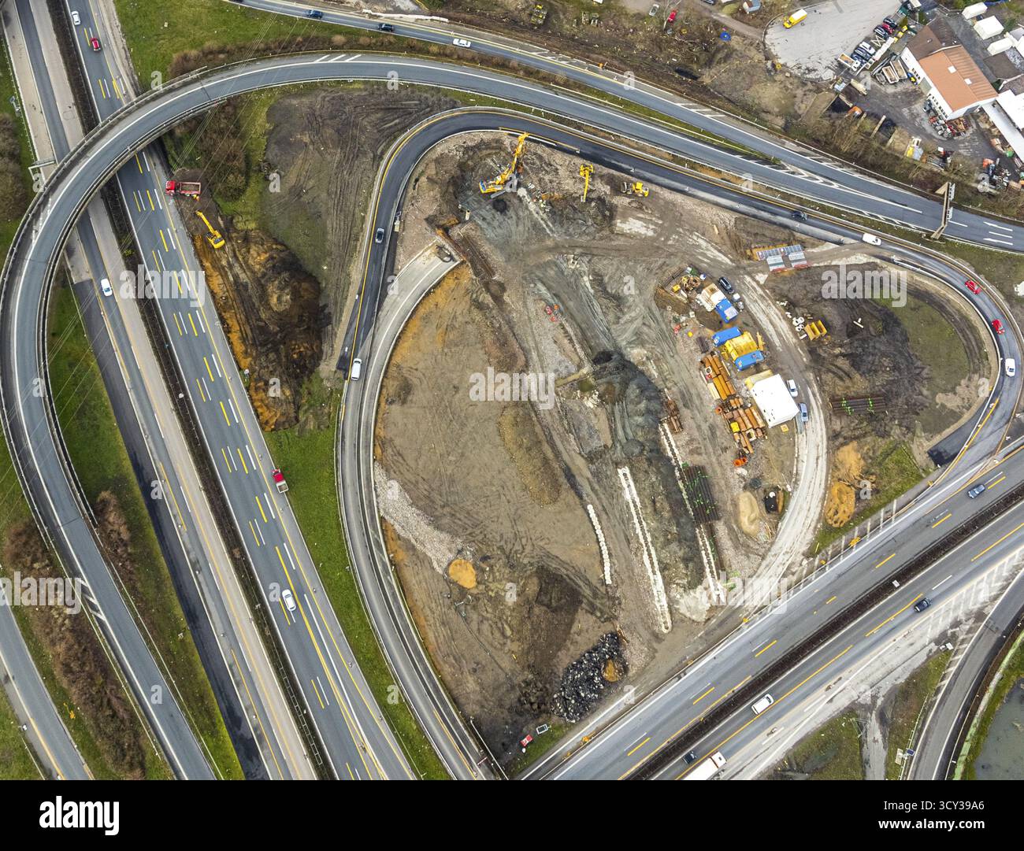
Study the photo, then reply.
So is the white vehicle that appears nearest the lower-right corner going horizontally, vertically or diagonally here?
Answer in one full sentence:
In this picture, the white vehicle that appears nearest the lower-right corner is oriented diagonally.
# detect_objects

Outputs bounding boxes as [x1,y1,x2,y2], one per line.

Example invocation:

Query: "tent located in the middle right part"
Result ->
[746,374,799,432]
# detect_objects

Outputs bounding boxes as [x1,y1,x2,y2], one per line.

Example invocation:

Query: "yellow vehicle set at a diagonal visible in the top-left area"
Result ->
[199,215,226,248]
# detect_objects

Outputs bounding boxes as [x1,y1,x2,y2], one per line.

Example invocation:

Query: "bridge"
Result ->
[0,64,224,547]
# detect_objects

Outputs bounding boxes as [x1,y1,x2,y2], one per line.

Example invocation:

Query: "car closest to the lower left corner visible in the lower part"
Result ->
[281,589,296,612]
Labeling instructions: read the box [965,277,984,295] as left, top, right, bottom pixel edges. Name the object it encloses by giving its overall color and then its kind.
red car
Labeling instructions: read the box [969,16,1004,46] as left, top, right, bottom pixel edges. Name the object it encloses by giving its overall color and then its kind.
white tent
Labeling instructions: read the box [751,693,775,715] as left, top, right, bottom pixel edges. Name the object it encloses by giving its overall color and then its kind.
white vehicle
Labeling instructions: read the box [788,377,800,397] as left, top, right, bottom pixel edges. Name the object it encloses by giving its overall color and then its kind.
white vehicle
